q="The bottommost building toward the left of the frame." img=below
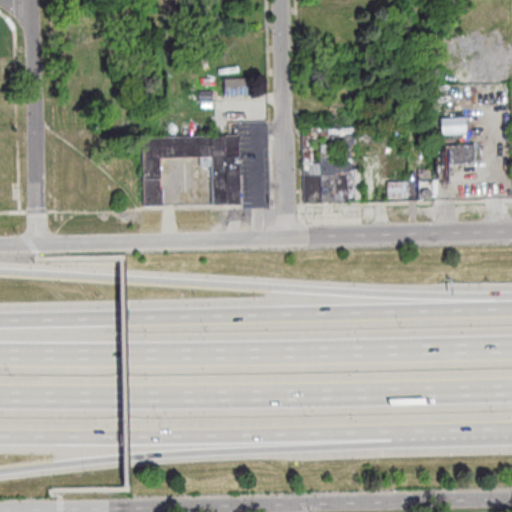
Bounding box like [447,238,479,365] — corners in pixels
[144,135,240,206]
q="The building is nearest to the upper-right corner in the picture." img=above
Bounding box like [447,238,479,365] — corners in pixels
[441,117,469,137]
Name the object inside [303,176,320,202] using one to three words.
building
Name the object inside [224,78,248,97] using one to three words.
building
